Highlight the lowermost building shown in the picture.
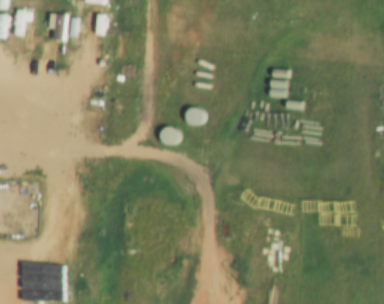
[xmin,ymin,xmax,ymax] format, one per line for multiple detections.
[22,288,68,304]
